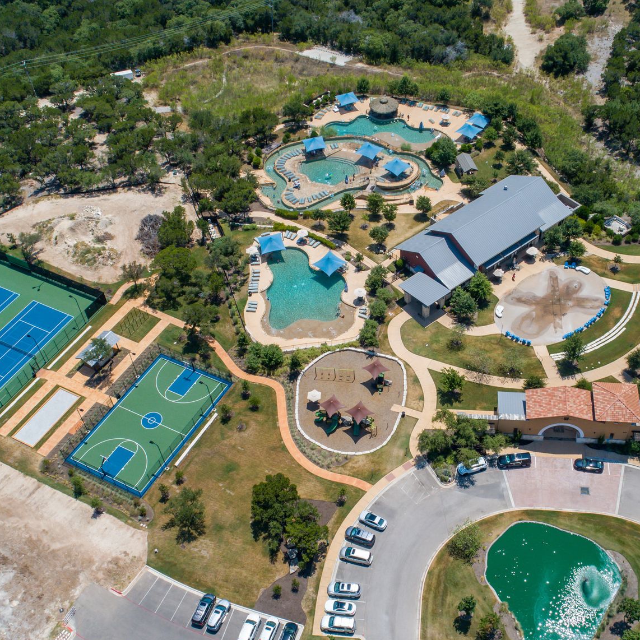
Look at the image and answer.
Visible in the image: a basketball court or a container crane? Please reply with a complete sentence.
Looking from above, you can make out a basketball court.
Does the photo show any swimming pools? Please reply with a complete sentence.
Yes, there's a swimming pool here.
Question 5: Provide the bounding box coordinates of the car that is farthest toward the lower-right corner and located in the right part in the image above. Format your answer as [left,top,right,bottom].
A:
[575,458,603,474]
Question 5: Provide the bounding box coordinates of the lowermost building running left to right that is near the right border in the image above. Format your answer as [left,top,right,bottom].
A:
[490,379,640,445]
